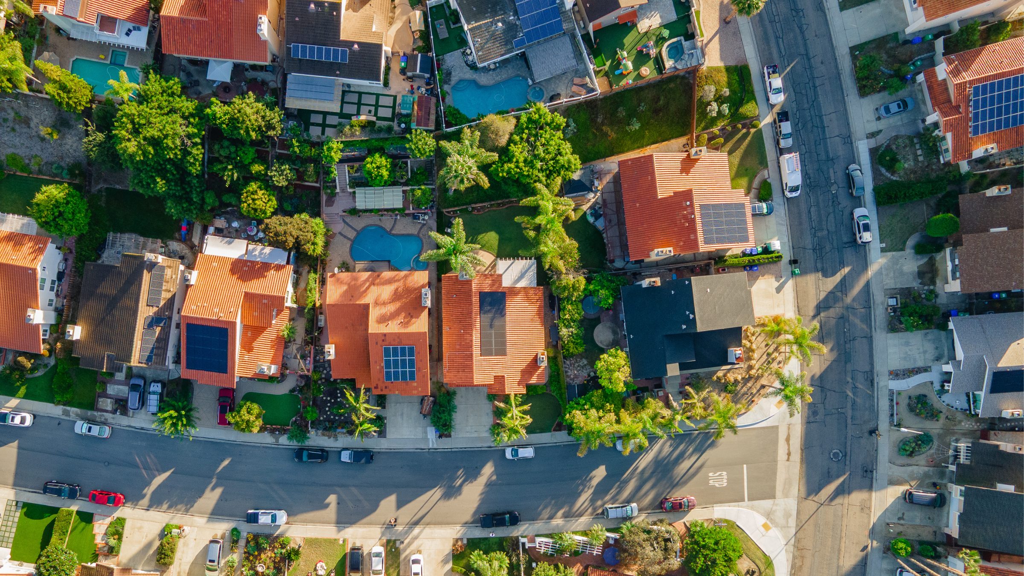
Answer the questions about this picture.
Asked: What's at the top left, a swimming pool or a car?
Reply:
swimming pool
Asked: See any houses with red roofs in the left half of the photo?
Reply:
Yes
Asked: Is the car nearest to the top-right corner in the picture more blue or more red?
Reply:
blue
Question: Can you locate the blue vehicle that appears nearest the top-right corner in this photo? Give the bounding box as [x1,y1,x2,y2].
[877,97,915,118]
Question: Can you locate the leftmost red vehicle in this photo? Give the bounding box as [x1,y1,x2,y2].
[88,489,126,507]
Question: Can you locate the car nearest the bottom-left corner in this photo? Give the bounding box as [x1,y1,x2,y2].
[42,480,82,499]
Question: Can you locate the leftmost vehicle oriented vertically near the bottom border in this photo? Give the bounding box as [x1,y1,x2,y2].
[203,539,223,576]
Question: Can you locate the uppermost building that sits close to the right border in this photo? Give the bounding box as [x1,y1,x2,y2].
[899,0,998,40]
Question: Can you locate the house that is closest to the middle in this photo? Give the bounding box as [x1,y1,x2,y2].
[442,273,547,394]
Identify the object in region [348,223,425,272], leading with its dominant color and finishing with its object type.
blue swimming pool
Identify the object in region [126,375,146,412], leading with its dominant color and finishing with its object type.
blue car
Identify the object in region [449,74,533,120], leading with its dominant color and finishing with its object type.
blue swimming pool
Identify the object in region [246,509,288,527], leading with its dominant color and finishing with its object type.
white vehicle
